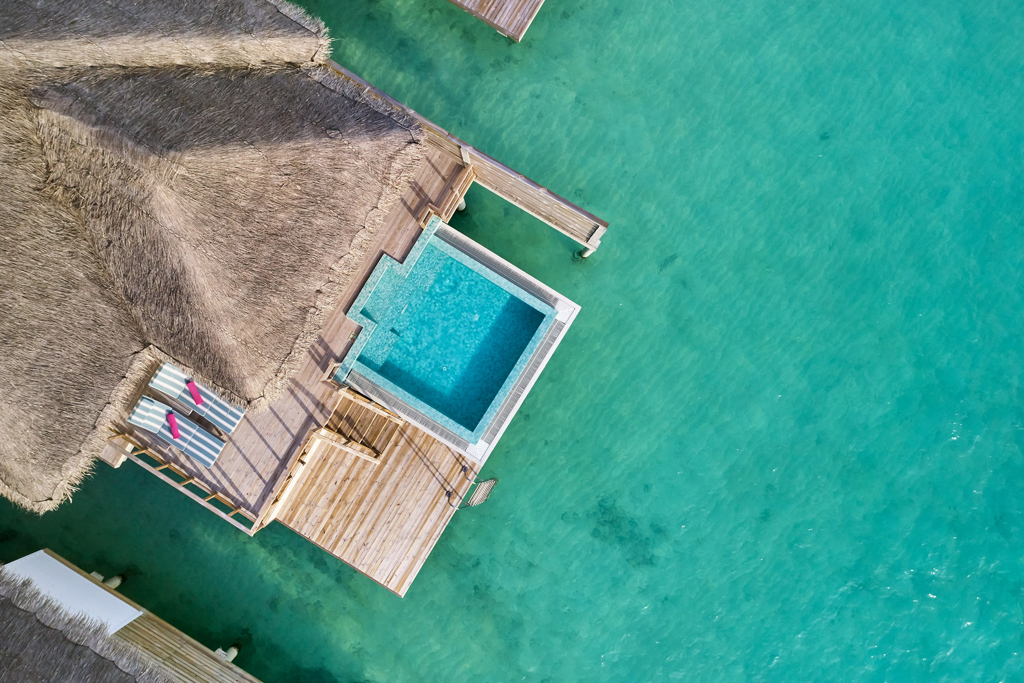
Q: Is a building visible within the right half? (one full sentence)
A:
No, no building can be made out within the right half.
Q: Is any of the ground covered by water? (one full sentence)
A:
Yes, there's water in this view.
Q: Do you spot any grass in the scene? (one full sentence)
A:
No, the picture contains no grass.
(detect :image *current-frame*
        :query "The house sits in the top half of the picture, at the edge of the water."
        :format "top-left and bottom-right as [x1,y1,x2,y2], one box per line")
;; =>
[0,0,439,514]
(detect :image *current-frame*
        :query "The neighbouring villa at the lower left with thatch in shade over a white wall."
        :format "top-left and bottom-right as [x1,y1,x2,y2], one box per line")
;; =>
[0,543,277,683]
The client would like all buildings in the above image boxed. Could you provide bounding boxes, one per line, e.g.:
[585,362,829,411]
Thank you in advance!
[0,543,277,683]
[0,0,439,514]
